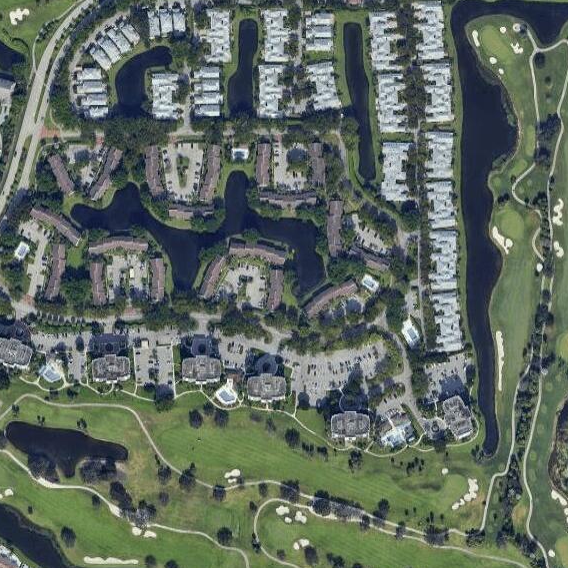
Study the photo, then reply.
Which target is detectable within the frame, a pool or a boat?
pool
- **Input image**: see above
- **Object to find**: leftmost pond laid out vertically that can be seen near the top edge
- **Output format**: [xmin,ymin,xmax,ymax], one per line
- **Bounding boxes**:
[227,20,258,116]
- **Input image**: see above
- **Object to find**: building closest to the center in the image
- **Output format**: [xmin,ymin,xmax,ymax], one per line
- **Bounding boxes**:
[266,270,282,312]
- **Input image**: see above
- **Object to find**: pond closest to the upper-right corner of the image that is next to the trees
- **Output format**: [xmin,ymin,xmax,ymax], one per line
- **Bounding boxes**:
[345,23,375,180]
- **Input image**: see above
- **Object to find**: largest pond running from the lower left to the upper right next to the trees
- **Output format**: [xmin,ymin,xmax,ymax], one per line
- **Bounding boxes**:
[115,47,172,114]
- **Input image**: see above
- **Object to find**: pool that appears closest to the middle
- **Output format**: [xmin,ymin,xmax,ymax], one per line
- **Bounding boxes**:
[362,274,381,291]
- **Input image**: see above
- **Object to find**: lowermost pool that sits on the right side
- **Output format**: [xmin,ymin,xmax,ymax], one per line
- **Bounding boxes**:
[378,422,414,448]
